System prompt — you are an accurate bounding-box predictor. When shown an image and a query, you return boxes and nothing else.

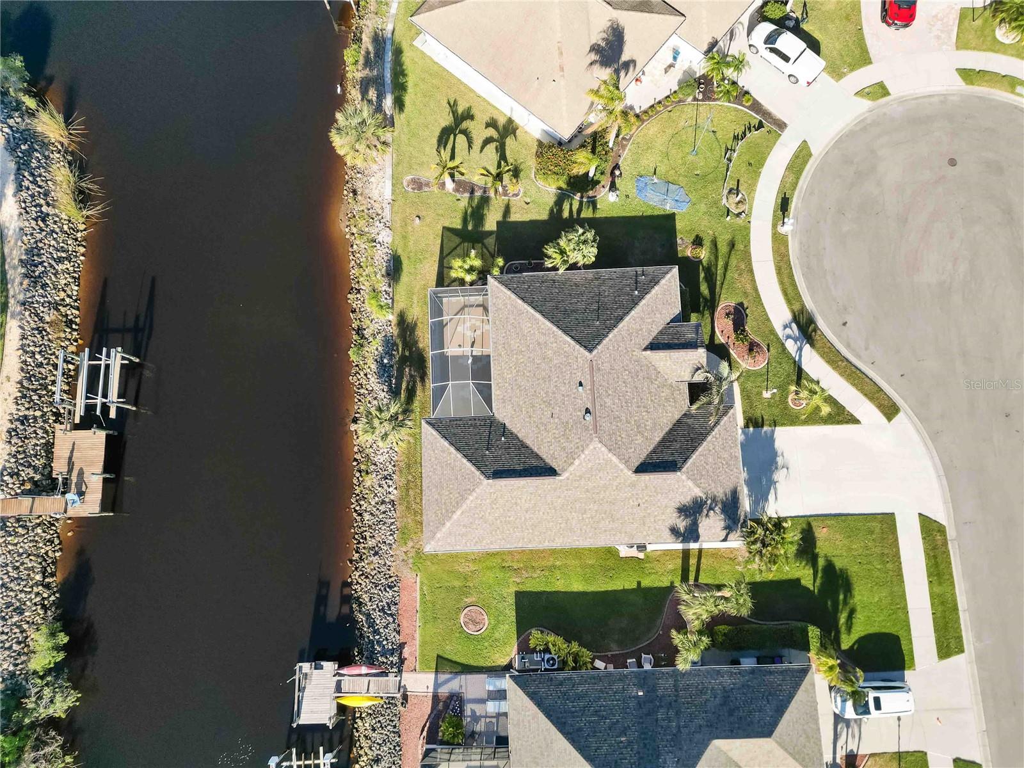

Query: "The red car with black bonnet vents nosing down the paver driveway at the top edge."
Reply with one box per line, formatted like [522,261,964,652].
[884,0,919,28]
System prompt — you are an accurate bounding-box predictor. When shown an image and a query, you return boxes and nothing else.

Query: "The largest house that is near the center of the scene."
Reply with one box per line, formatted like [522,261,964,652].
[420,267,748,554]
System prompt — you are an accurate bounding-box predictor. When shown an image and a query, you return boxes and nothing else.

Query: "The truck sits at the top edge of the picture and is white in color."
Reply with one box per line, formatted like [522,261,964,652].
[745,19,832,88]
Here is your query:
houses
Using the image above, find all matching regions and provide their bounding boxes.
[392,0,761,147]
[420,661,824,768]
[420,267,748,554]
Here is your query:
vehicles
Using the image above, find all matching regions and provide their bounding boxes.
[833,681,918,724]
[884,0,919,28]
[745,19,832,88]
